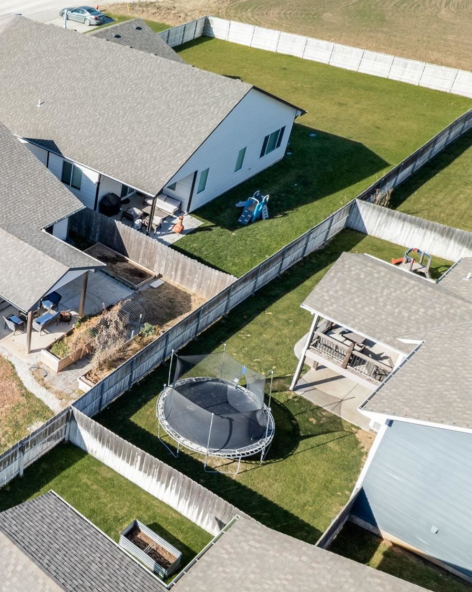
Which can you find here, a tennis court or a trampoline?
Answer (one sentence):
The one in the frame is a trampoline.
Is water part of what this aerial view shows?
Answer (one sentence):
No, water can't be seen anywhere here.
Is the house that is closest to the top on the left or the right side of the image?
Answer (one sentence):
The house that is closest to the top sits on the left side.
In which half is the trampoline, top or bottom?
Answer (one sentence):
The bottom half of the photo is where the trampoline is.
